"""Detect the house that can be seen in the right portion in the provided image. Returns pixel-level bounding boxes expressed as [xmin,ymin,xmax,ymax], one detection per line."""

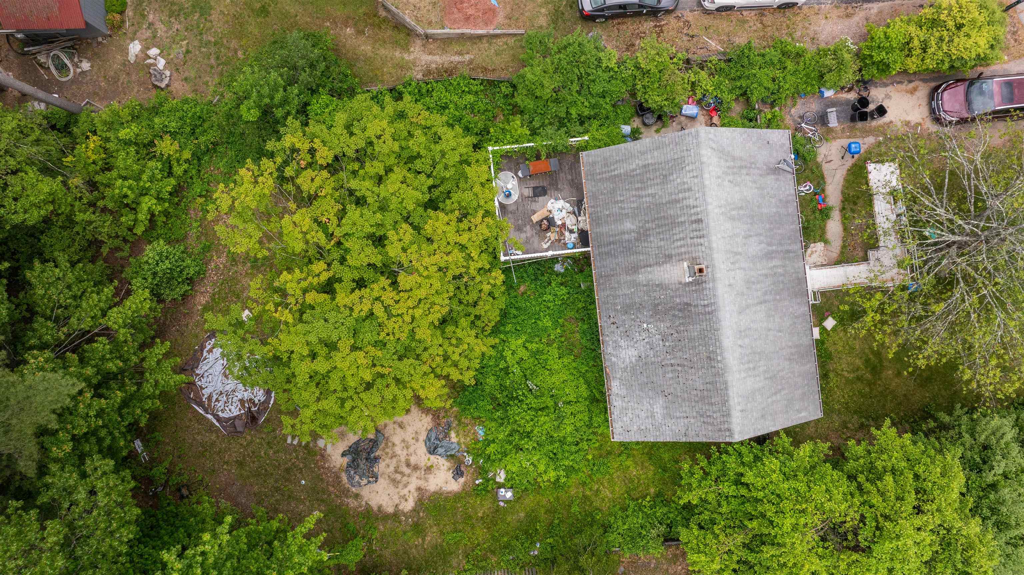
[579,128,822,443]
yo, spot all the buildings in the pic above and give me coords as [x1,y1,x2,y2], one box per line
[579,128,822,443]
[0,0,108,39]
